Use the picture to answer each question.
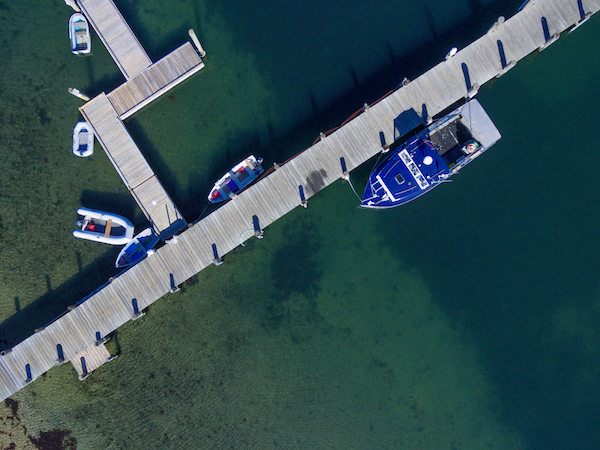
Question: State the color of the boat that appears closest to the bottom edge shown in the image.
blue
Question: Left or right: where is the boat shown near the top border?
left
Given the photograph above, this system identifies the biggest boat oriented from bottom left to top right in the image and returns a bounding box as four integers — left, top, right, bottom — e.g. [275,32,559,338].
[360,97,503,210]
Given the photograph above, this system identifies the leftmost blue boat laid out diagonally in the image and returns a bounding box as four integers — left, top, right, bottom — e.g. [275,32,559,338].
[114,228,161,268]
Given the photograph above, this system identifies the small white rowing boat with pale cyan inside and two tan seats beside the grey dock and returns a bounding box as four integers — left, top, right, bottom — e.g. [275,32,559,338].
[71,12,92,60]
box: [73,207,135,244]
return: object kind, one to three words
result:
boat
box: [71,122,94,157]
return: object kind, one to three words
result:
boat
